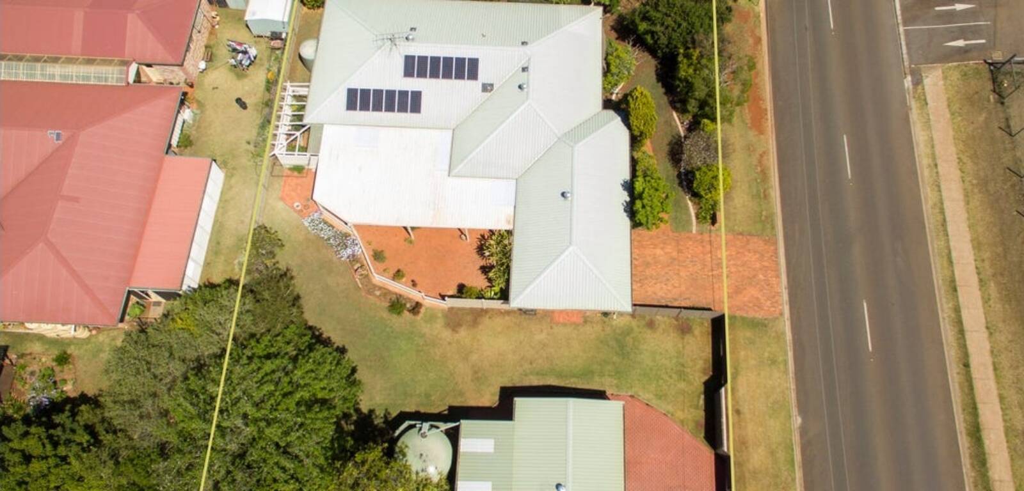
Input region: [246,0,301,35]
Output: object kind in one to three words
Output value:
shed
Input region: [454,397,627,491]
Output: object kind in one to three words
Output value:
shed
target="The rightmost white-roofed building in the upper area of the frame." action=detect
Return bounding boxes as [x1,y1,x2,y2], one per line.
[304,0,633,314]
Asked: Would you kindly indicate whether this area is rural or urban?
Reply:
urban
